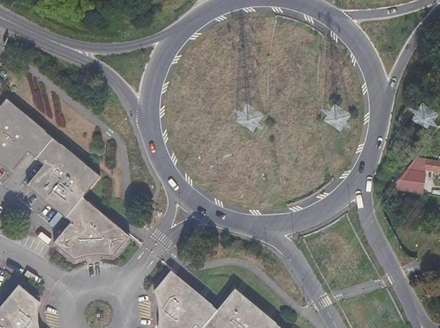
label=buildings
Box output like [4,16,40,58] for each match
[0,99,132,263]
[154,270,280,328]
[0,285,40,328]
[396,157,440,194]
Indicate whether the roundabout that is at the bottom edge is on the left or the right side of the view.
left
